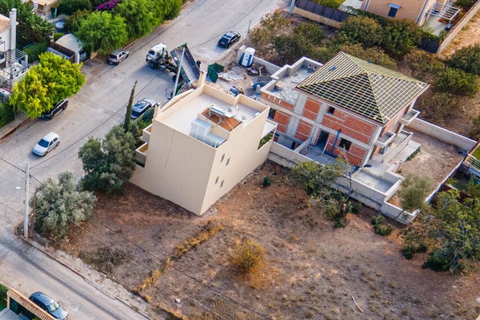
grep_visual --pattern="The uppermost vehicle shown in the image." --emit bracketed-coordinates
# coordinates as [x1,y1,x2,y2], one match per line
[216,31,243,49]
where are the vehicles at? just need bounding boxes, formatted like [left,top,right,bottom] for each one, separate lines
[133,94,160,114]
[38,94,72,120]
[216,31,243,49]
[104,50,131,67]
[151,34,203,86]
[24,284,73,320]
[31,130,63,156]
